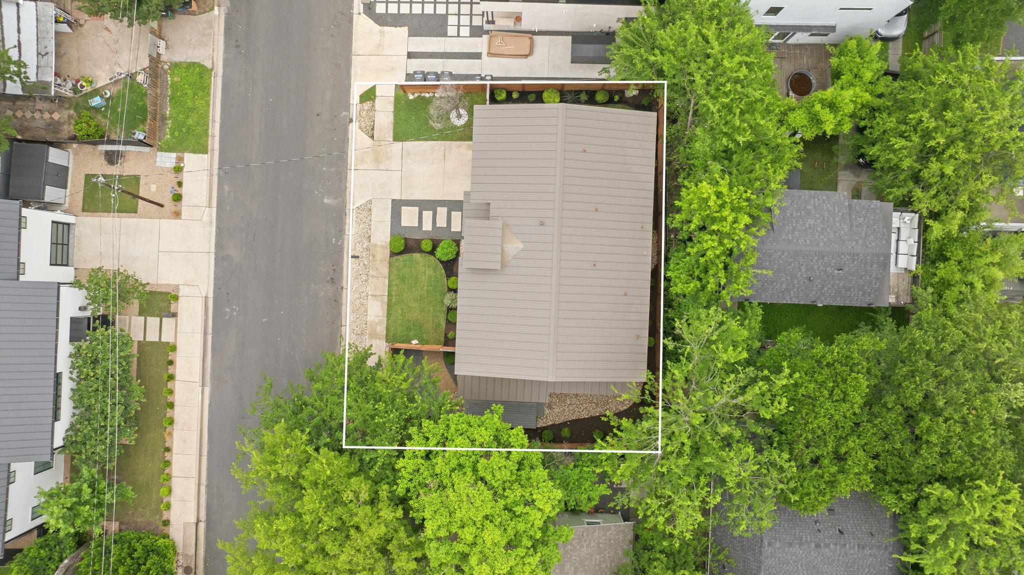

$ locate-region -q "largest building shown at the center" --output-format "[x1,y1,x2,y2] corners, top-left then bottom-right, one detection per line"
[454,103,657,405]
